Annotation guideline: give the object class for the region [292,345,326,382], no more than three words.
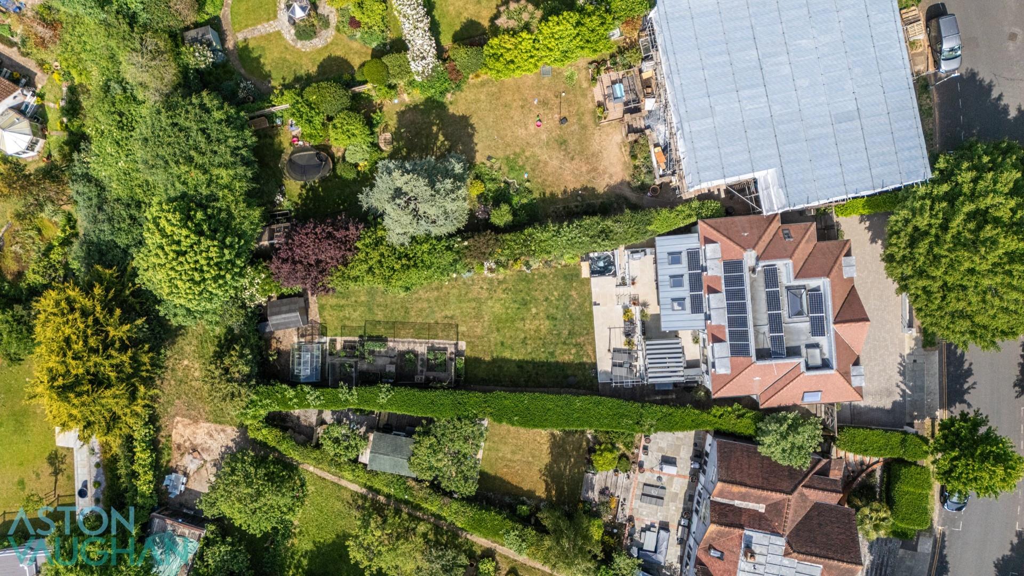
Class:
greenhouse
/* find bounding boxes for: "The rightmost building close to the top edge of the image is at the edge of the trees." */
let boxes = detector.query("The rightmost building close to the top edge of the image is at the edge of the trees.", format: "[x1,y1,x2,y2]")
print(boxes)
[652,0,931,217]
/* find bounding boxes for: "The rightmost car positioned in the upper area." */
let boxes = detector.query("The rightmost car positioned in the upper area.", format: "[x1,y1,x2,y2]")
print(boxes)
[929,14,962,74]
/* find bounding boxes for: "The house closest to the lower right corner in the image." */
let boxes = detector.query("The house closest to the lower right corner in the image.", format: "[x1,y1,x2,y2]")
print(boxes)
[674,430,864,576]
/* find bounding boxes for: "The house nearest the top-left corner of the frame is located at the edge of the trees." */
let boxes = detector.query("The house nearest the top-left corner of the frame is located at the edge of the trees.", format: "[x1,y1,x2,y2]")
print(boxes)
[0,75,53,116]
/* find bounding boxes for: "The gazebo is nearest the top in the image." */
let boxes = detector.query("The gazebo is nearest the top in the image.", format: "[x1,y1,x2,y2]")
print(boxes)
[285,0,315,25]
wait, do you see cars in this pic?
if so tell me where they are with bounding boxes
[938,472,968,513]
[929,14,962,74]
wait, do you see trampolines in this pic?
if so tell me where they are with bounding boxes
[280,146,333,182]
